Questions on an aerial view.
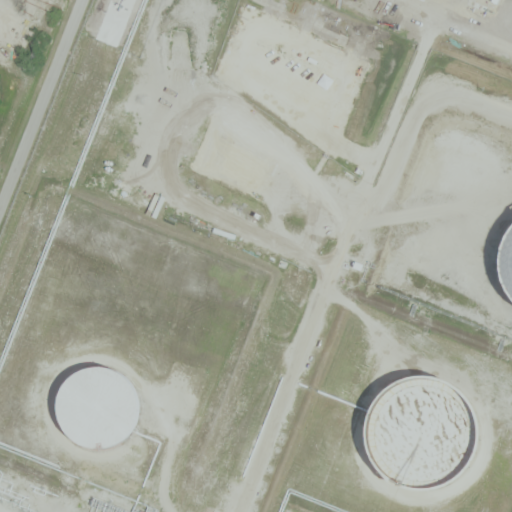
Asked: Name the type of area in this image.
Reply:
industrial area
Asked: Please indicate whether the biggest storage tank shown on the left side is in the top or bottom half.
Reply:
bottom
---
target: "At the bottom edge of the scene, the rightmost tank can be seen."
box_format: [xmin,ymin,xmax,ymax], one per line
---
[362,374,478,492]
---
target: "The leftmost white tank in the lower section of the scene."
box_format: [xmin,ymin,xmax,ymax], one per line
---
[53,365,142,453]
